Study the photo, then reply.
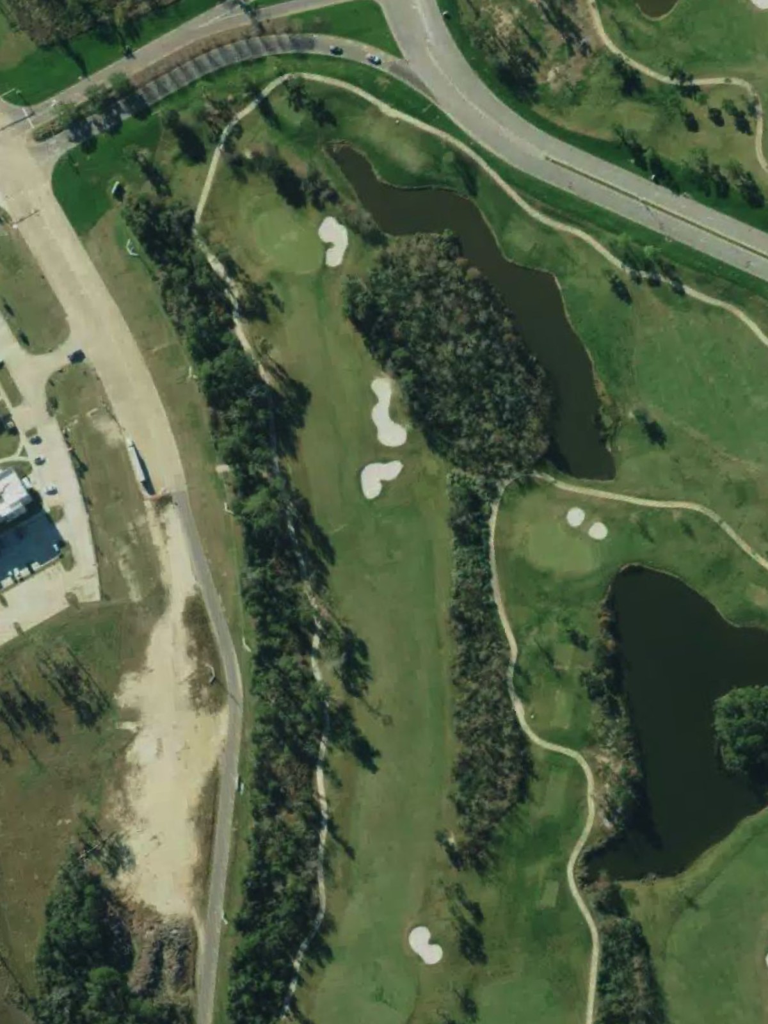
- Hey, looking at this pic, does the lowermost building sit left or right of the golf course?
on the left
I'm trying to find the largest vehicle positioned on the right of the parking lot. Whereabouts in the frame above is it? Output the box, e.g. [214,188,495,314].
[126,437,144,484]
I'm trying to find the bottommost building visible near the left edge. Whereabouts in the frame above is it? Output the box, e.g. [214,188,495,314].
[0,469,31,521]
